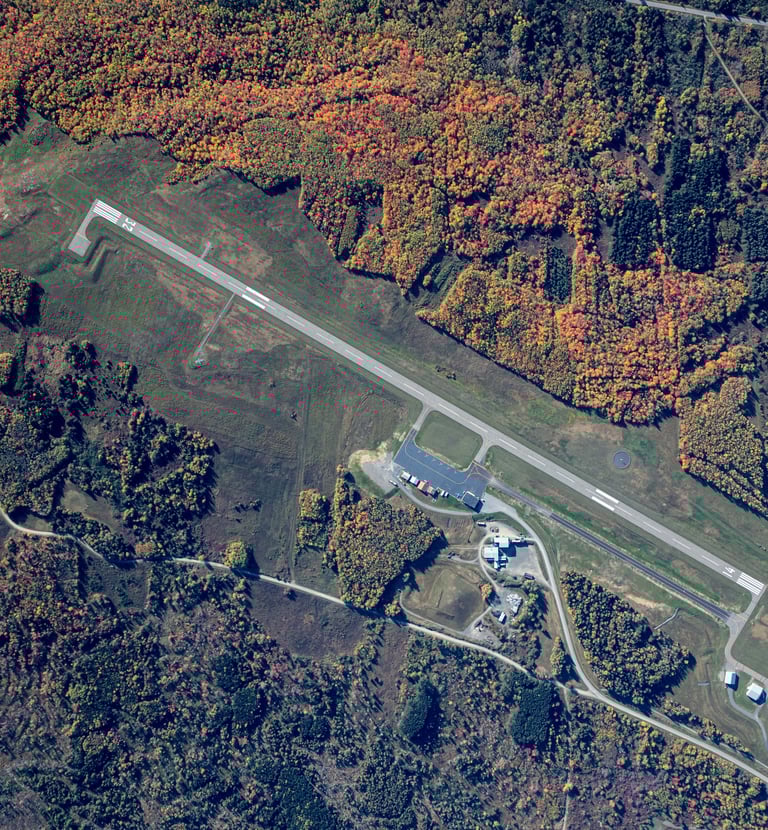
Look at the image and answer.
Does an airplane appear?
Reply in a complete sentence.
No, the picture doesn't show any airplane.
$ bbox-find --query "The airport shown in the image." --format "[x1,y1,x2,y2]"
[69,199,768,686]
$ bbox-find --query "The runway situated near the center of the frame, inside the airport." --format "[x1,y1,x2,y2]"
[91,199,767,597]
